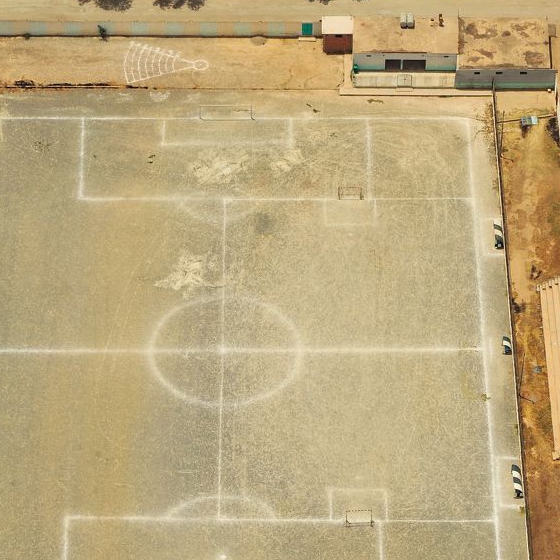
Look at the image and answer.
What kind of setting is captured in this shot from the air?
sports ground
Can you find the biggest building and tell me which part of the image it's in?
top right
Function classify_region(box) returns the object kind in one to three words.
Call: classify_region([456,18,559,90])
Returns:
building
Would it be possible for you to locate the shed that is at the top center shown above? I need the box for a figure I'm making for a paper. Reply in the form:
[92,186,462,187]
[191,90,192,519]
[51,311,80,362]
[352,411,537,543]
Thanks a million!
[321,15,354,54]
